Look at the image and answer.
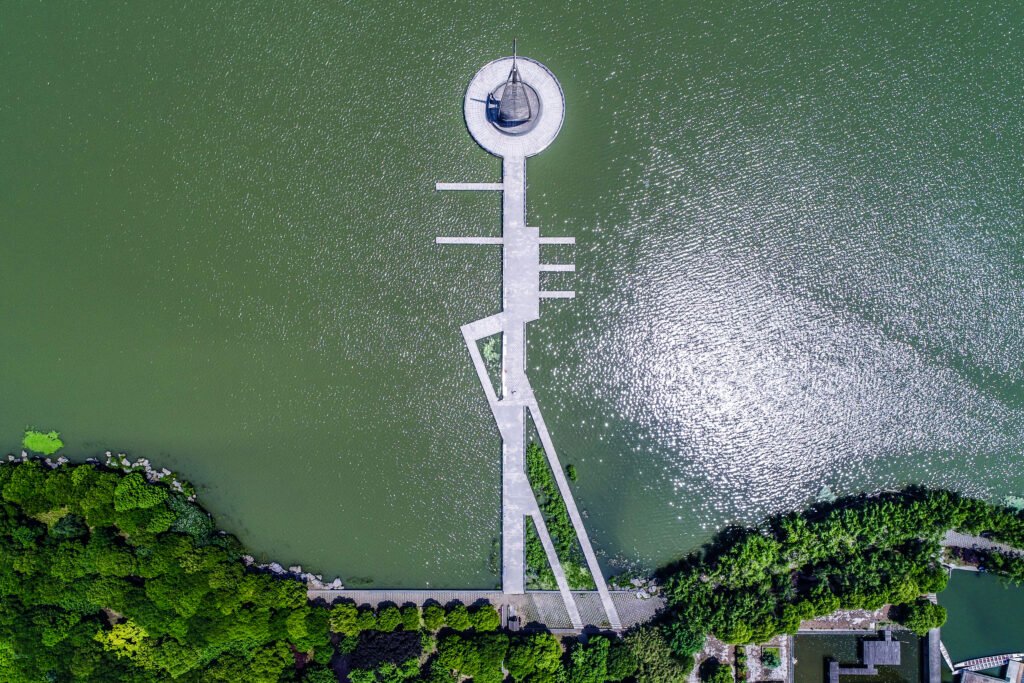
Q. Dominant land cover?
water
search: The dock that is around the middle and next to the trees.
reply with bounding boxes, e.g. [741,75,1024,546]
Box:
[436,157,621,628]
